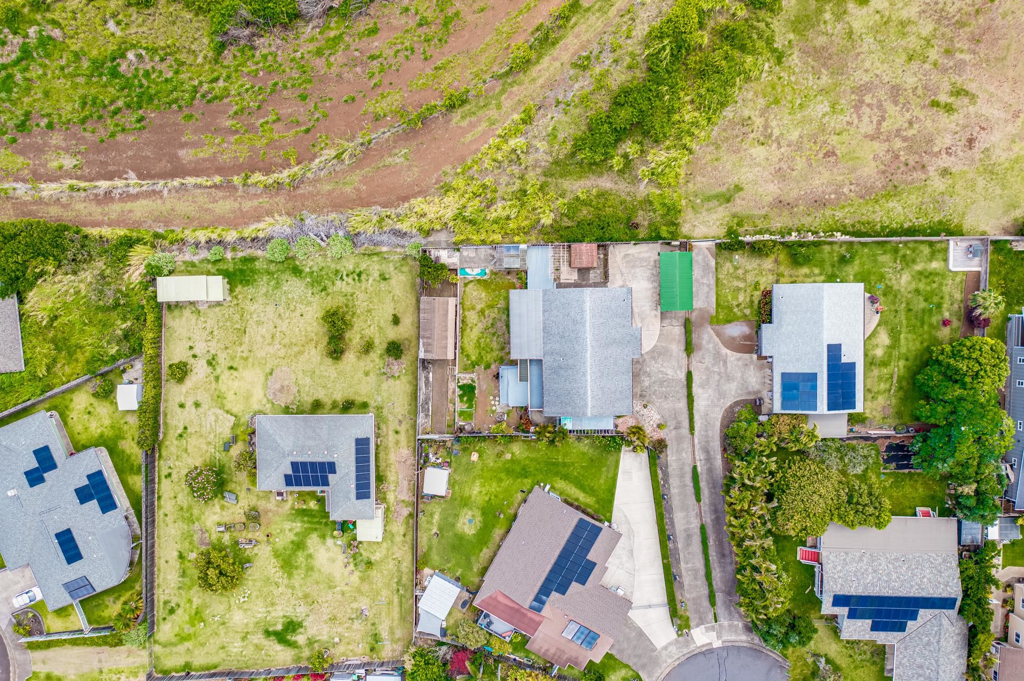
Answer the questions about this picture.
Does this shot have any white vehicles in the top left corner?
No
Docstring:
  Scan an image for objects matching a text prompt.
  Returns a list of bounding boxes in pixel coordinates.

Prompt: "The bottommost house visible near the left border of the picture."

[0,410,136,612]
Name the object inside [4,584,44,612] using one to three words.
car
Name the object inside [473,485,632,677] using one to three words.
house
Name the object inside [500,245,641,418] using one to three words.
house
